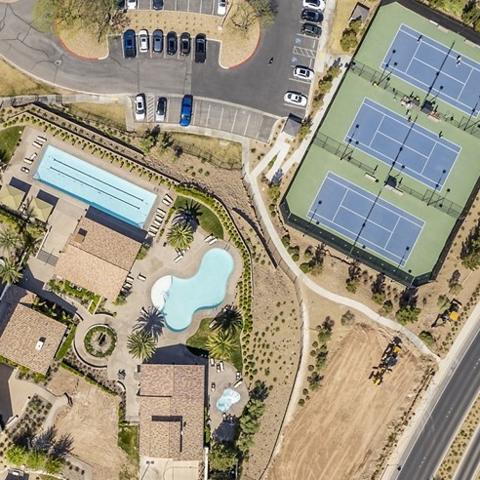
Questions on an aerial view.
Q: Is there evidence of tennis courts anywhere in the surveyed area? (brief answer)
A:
Yes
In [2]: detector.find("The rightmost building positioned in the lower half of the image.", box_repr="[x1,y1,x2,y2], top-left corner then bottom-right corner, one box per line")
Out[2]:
[137,365,204,461]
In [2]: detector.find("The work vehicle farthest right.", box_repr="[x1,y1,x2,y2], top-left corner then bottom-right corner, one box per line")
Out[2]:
[439,306,463,326]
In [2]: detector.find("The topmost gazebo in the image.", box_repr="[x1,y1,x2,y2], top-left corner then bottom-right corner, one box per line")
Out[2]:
[349,2,370,26]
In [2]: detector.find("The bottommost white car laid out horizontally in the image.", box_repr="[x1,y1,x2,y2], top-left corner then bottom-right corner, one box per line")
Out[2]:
[284,92,307,105]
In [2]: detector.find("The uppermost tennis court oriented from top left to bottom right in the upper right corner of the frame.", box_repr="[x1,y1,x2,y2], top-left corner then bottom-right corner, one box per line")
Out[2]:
[380,23,480,118]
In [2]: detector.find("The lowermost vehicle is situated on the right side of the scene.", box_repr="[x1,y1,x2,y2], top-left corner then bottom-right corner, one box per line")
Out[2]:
[374,340,403,383]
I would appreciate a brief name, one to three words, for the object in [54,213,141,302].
building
